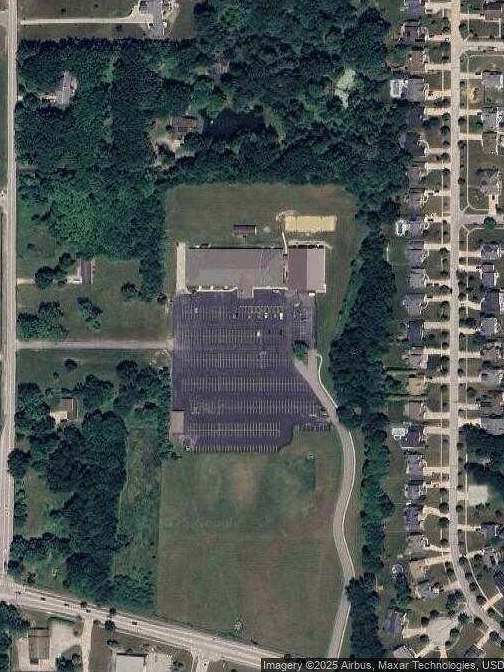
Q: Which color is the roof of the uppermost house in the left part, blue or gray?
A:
gray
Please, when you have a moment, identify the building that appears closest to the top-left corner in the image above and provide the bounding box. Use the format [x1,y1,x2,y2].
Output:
[59,70,71,104]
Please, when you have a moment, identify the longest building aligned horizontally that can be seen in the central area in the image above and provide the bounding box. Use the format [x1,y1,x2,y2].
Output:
[188,248,326,296]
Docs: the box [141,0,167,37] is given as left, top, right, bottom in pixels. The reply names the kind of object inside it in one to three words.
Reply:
house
